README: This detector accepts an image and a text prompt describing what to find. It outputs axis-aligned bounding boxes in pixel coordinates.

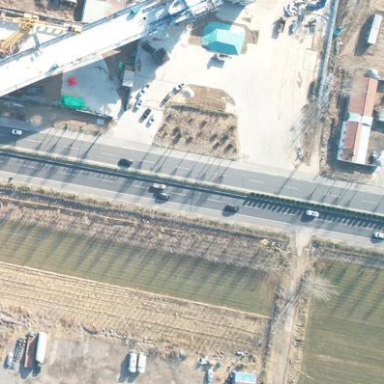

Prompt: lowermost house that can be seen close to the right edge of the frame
[332,124,371,167]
